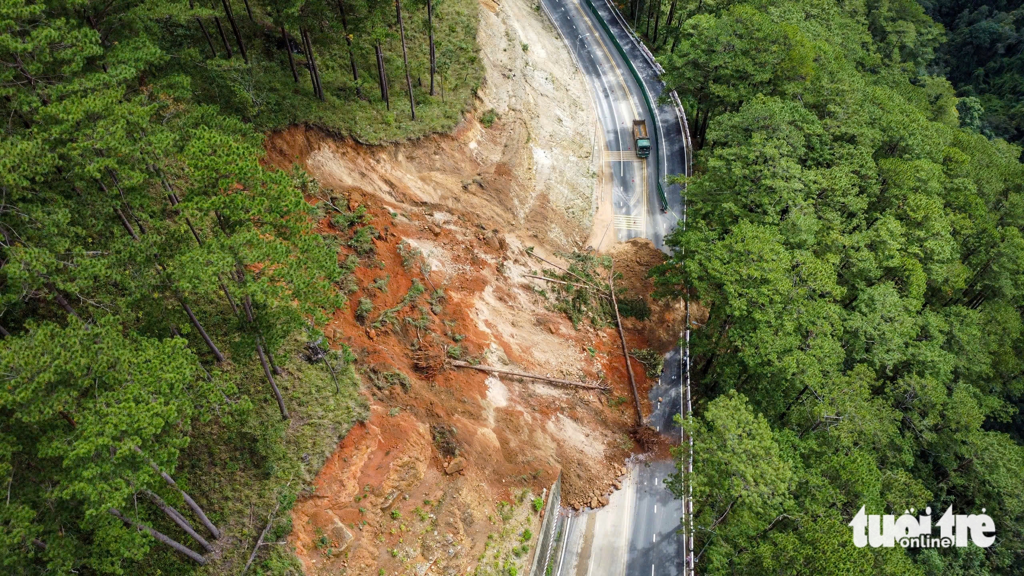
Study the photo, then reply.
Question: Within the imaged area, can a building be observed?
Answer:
No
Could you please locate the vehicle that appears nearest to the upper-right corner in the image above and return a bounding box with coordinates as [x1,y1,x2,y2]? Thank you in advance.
[635,117,654,152]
